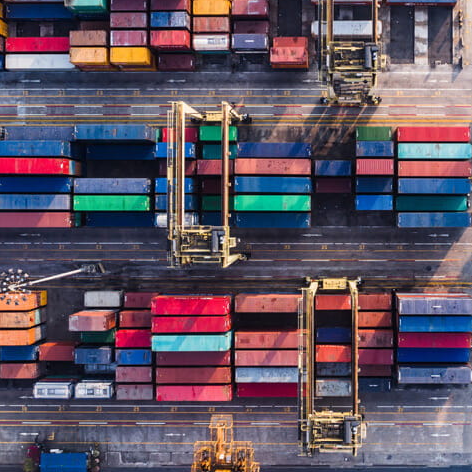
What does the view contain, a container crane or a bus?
container crane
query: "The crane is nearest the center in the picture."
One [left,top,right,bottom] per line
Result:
[163,95,260,276]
